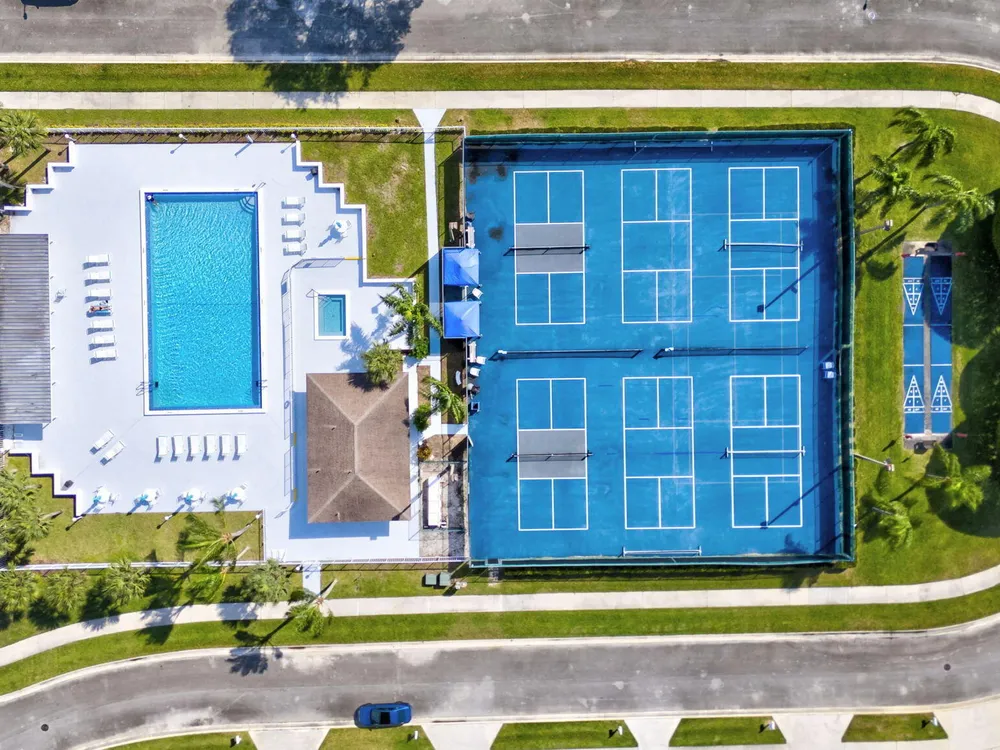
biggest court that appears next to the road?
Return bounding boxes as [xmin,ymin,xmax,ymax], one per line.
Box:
[446,138,841,558]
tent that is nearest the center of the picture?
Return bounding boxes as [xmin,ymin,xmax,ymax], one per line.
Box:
[444,302,481,340]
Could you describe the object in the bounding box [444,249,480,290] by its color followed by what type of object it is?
blue tent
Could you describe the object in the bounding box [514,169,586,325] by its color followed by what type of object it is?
blue sports court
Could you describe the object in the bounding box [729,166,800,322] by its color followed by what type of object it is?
blue sports court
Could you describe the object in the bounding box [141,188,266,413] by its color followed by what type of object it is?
blue swimming pool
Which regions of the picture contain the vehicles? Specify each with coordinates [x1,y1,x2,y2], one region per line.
[356,700,411,729]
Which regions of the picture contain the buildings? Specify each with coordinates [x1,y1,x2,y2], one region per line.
[306,372,411,523]
[0,229,58,423]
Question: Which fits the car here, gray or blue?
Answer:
blue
